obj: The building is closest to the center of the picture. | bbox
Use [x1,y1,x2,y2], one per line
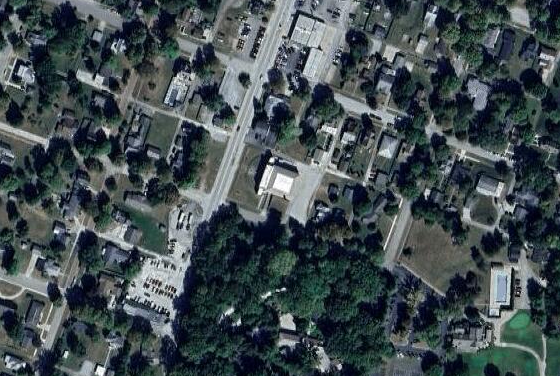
[257,158,299,197]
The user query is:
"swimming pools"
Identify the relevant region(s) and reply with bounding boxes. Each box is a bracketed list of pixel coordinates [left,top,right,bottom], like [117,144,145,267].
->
[491,263,514,310]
